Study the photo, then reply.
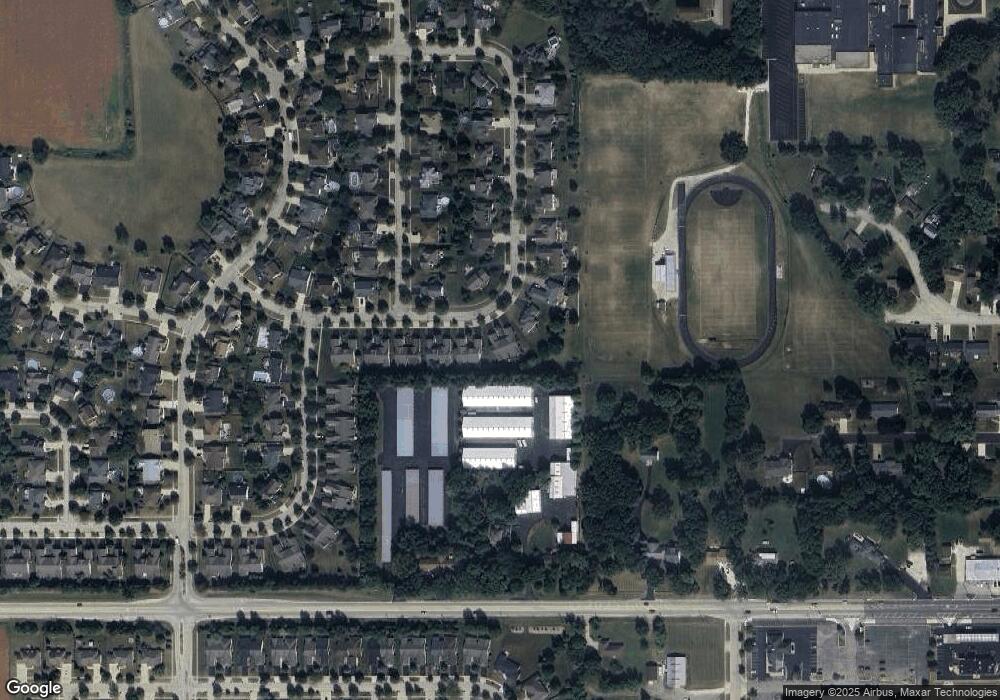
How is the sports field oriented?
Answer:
up and down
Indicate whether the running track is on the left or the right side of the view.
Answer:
right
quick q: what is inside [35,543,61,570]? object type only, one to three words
house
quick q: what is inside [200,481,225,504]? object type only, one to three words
house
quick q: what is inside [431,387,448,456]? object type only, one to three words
shed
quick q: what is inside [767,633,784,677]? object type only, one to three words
building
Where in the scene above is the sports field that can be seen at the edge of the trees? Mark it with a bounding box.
[687,183,768,357]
